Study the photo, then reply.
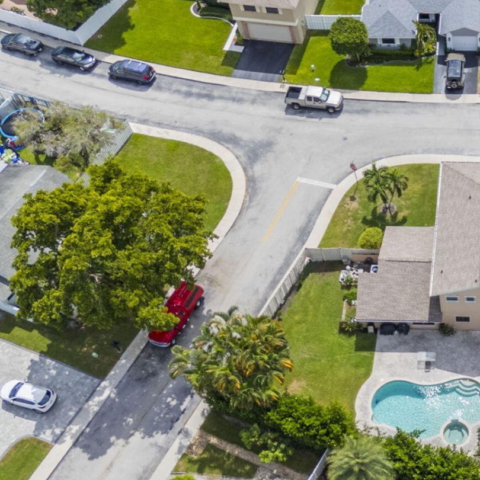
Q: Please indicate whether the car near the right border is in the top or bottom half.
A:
top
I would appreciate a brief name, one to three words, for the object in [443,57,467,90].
car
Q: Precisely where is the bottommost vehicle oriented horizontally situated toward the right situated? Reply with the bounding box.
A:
[283,86,344,113]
